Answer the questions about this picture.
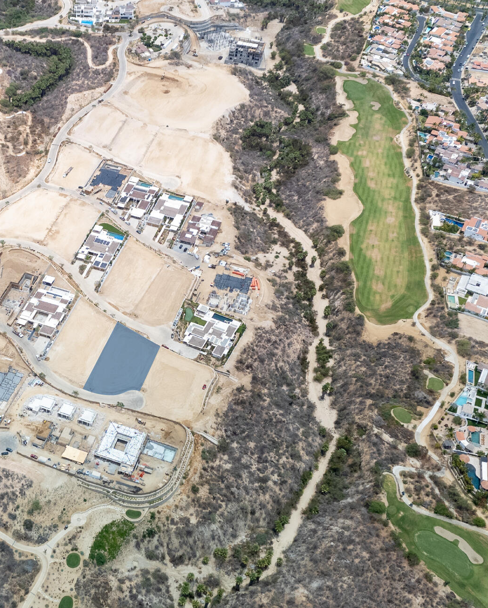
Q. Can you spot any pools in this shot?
Yes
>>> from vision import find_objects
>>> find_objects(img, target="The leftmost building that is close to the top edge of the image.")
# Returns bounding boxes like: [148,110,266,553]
[74,0,106,28]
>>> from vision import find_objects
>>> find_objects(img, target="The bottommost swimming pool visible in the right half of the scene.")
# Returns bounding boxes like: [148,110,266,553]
[465,461,486,489]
